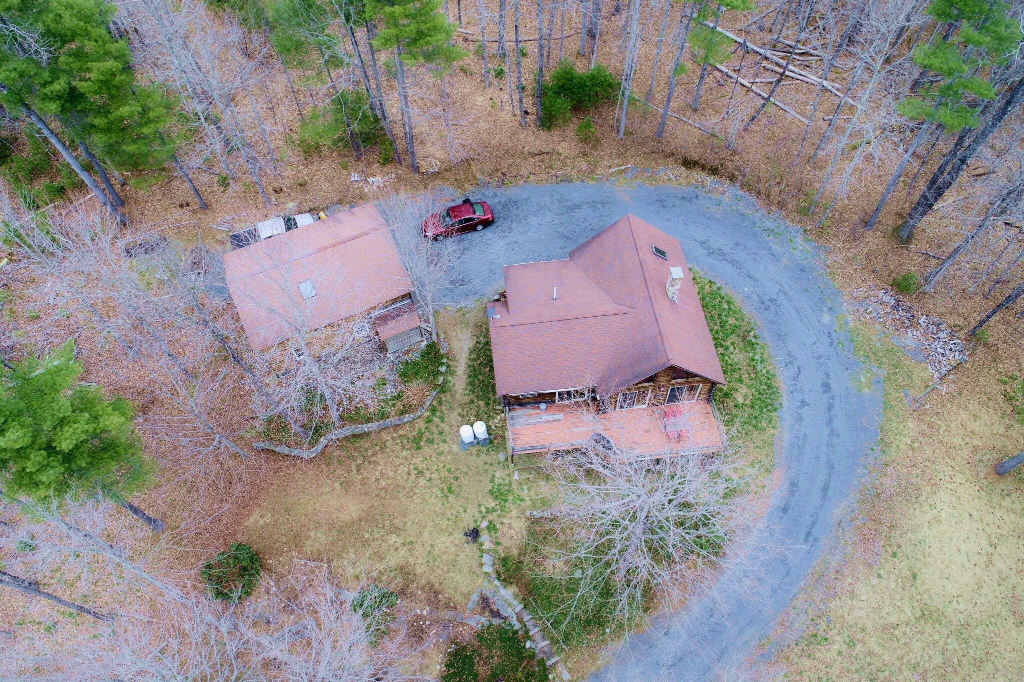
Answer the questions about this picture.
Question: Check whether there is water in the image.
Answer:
No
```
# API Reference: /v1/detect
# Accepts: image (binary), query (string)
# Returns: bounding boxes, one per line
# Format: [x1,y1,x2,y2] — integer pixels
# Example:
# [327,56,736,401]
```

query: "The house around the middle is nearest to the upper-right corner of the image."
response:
[488,212,727,417]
